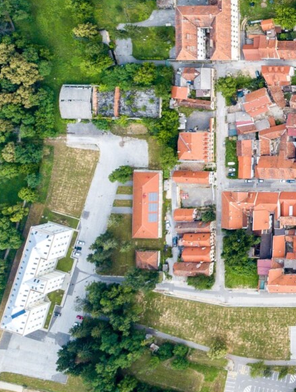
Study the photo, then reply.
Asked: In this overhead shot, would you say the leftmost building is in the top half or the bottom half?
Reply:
bottom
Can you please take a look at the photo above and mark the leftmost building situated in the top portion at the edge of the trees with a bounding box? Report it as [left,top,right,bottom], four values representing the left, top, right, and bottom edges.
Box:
[59,84,96,119]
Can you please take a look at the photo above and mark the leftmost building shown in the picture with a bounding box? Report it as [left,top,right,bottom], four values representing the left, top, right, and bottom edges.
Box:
[0,222,70,336]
